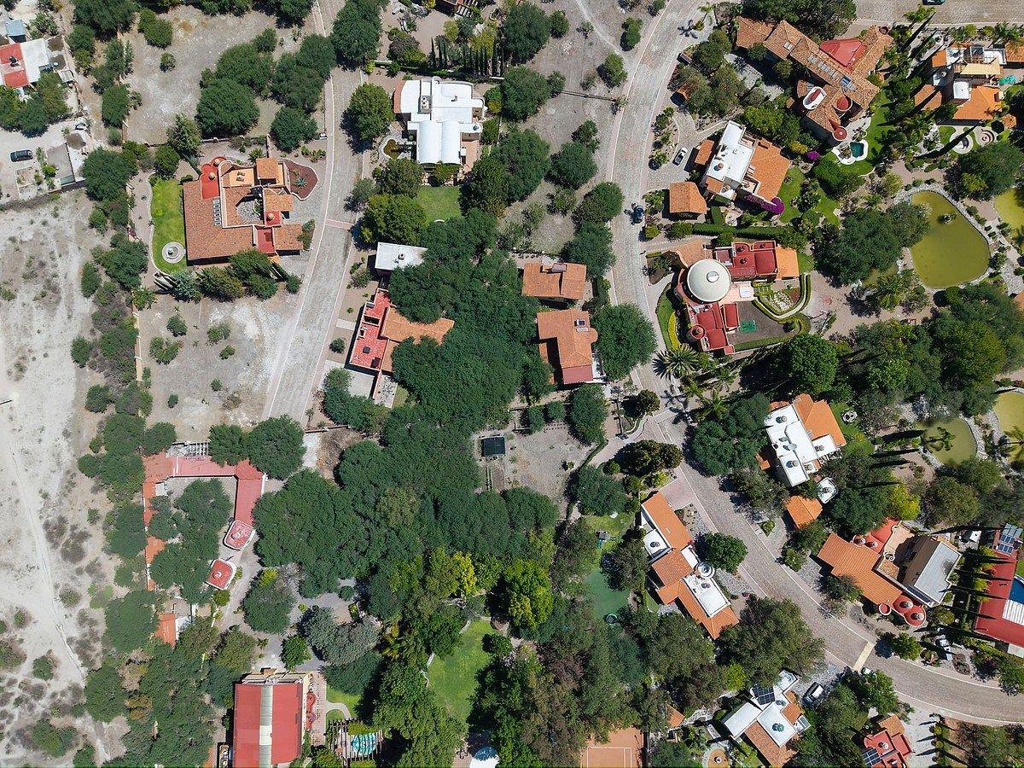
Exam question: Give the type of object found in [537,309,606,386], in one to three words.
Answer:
house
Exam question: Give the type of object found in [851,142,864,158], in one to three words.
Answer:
swimming pool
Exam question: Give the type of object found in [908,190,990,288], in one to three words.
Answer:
pond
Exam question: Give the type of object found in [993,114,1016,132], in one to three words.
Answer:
gazebo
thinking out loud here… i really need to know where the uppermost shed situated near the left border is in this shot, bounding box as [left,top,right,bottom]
[6,20,31,42]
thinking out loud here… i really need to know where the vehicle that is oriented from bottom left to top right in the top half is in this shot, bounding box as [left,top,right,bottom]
[672,145,689,167]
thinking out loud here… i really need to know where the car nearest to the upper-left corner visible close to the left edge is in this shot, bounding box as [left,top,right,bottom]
[9,149,34,162]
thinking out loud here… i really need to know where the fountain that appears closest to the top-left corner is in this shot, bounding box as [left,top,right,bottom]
[162,241,184,262]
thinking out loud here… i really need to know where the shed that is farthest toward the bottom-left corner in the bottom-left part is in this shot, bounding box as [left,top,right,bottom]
[155,610,192,644]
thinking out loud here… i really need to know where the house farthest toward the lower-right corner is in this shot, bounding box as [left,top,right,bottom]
[853,715,912,768]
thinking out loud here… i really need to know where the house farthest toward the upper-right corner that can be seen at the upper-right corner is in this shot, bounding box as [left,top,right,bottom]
[911,40,1024,126]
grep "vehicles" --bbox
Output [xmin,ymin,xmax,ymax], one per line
[857,663,878,680]
[9,149,34,162]
[633,203,644,224]
[802,680,825,706]
[936,634,952,660]
[924,0,945,6]
[672,145,689,167]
